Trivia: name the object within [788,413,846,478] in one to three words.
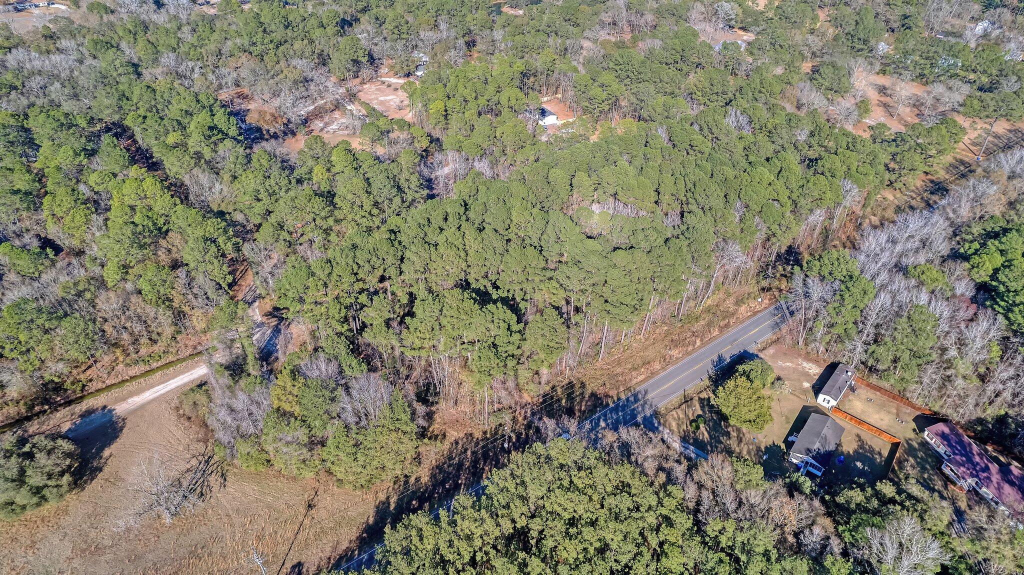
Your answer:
house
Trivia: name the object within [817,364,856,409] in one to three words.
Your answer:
house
